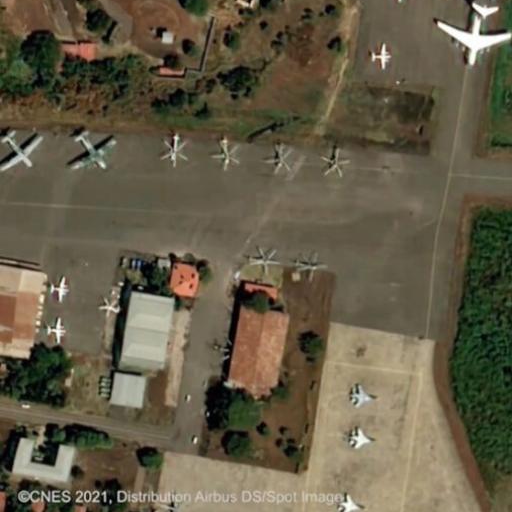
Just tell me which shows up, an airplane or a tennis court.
airplane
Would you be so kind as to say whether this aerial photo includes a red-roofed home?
Yes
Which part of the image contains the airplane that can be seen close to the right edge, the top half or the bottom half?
top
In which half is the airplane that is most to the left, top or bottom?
top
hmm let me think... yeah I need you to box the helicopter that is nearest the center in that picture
[245,247,280,277]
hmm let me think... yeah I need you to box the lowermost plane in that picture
[338,494,369,512]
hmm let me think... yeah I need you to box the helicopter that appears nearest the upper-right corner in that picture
[322,144,351,177]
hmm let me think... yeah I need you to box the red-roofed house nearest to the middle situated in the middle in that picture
[243,282,278,301]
